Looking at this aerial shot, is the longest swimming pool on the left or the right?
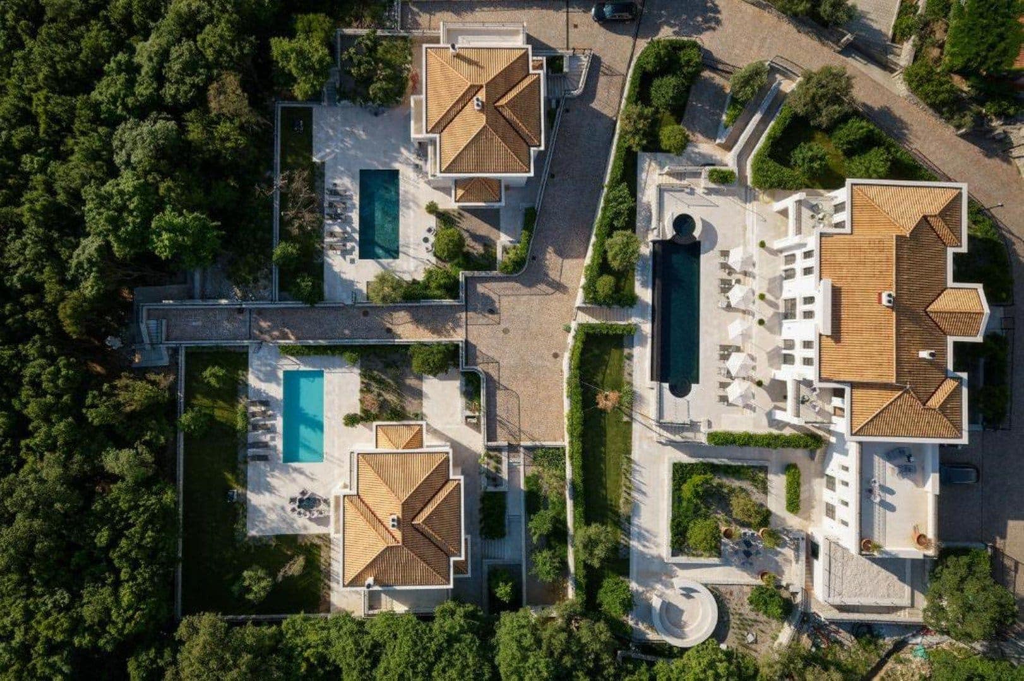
right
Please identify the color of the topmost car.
black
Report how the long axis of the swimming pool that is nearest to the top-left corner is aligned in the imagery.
vertically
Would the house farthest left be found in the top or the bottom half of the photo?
bottom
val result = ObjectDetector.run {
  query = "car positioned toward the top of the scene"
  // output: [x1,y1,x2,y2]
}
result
[591,0,638,24]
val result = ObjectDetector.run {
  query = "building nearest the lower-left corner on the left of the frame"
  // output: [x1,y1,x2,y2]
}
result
[332,422,471,615]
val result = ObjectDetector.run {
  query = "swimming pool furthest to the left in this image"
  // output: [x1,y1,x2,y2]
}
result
[281,368,326,466]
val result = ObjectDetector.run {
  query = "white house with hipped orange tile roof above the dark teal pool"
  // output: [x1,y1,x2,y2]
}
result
[411,21,546,208]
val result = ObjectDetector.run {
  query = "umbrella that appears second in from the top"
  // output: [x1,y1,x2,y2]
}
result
[727,282,753,311]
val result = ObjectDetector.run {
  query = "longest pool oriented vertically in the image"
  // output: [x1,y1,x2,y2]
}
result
[661,242,699,395]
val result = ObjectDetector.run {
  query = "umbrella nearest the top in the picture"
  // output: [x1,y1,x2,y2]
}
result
[726,244,753,272]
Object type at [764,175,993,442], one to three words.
house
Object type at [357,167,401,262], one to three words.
swimming pool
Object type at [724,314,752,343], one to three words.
umbrella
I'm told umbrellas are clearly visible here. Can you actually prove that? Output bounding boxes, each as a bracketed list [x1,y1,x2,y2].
[724,314,752,343]
[726,244,753,272]
[726,377,752,406]
[725,350,752,379]
[727,282,753,311]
